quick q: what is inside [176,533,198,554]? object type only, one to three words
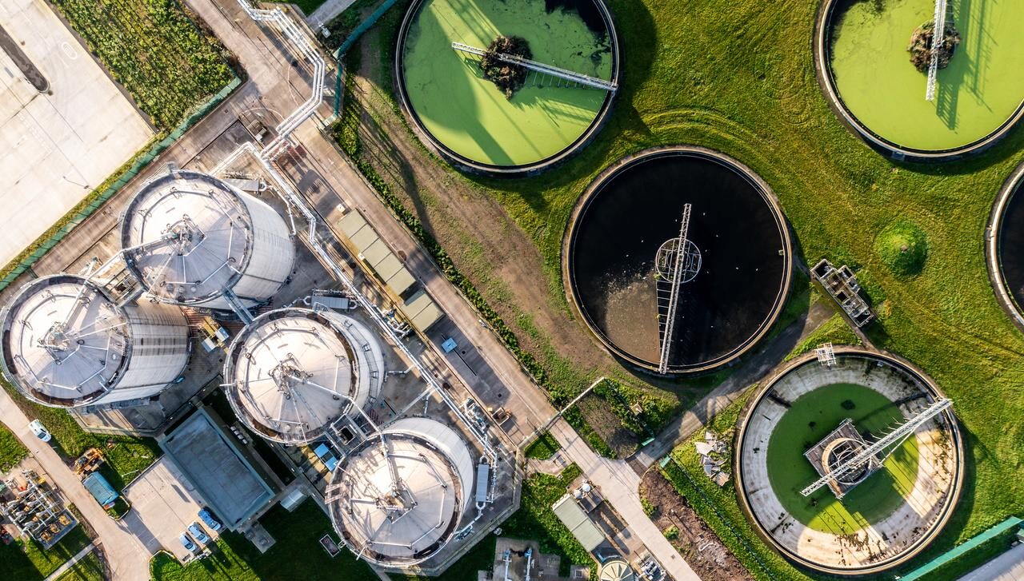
car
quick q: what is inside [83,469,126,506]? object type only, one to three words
shed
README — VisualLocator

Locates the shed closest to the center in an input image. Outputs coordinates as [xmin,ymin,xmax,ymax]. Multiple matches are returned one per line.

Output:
[401,288,447,331]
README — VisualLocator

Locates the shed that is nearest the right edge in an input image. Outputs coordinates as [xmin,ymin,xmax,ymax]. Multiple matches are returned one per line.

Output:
[551,490,606,552]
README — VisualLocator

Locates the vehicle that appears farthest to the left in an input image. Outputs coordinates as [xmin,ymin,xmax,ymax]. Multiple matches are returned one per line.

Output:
[27,418,54,443]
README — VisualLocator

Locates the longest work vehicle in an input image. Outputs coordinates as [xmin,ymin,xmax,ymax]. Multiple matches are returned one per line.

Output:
[70,441,110,483]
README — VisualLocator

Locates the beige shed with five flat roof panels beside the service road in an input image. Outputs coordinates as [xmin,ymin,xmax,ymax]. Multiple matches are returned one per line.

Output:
[338,208,418,295]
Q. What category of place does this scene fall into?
industrial area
